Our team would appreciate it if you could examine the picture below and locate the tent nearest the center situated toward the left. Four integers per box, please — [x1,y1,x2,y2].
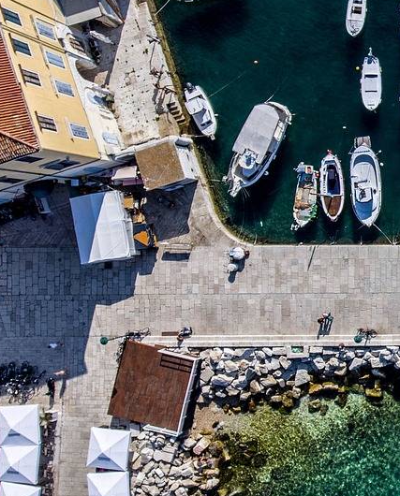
[70,188,142,264]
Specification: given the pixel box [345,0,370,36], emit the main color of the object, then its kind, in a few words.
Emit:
white boat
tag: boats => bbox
[358,48,385,111]
[182,80,220,139]
[290,159,318,228]
[225,96,296,198]
[345,0,370,36]
[309,152,345,220]
[349,136,384,226]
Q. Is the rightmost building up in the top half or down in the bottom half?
top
